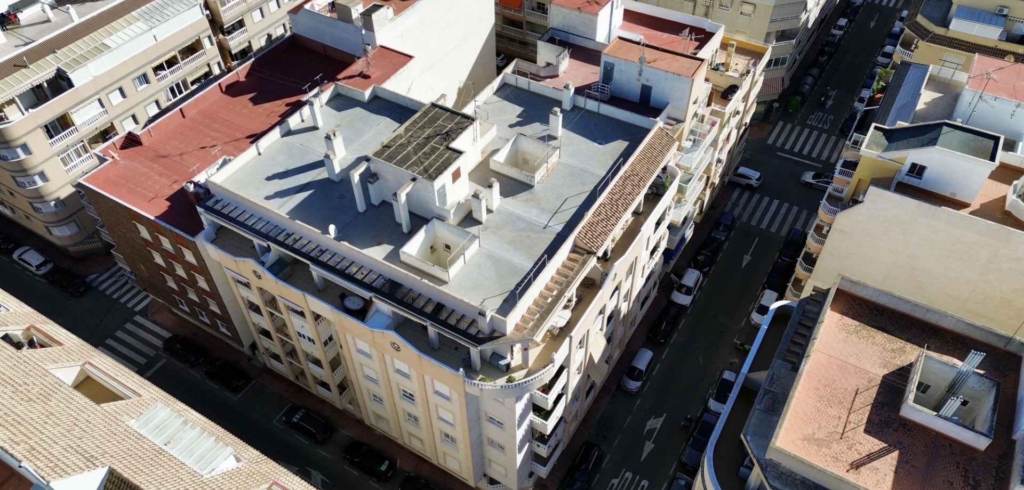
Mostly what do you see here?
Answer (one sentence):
The largest share of the image is taken up by buildings.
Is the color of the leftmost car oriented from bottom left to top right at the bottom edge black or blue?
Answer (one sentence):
In this view, the leftmost car oriented from bottom left to top right at the bottom edge is black.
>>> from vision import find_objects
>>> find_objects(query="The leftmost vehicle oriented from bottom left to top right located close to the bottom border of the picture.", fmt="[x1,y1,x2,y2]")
[560,430,612,490]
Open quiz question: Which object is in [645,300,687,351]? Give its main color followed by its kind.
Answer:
black car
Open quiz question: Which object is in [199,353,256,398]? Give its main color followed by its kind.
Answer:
black car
